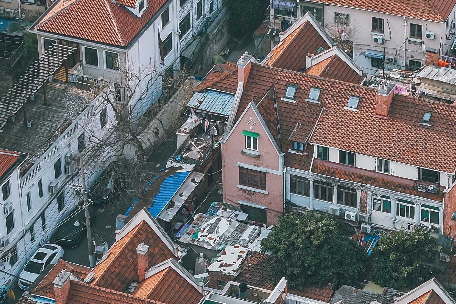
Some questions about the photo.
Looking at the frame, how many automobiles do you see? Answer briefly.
three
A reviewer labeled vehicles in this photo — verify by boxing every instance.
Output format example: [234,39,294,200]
[83,169,130,211]
[52,209,99,254]
[0,279,12,300]
[17,244,68,292]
